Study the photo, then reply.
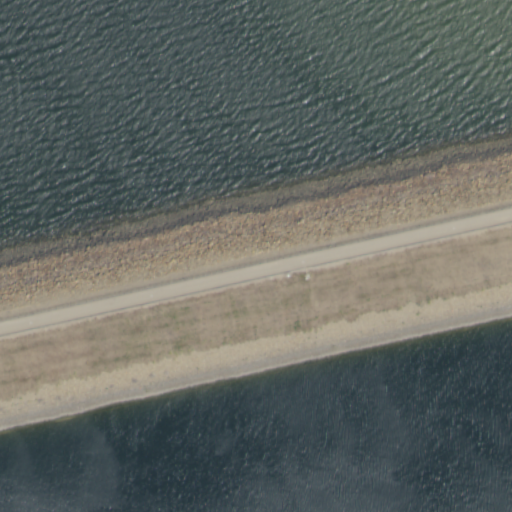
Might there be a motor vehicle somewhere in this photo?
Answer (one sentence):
No, no motor vehicle can be seen from above.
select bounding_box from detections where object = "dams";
[0,126,512,448]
